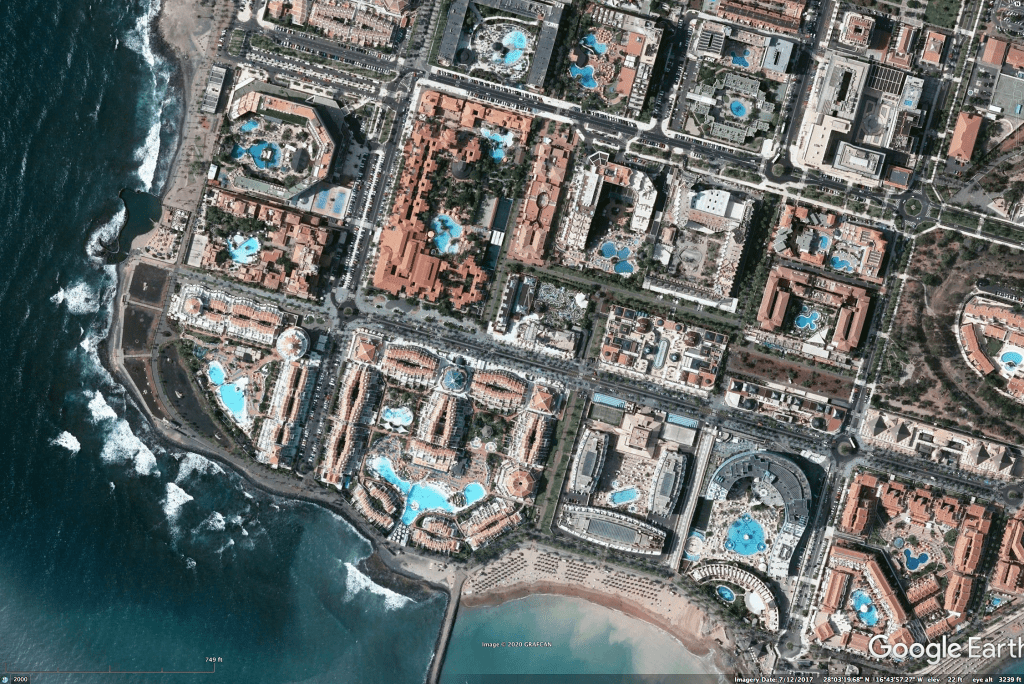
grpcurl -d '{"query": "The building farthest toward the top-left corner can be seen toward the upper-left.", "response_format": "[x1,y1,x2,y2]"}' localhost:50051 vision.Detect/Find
[201,65,229,115]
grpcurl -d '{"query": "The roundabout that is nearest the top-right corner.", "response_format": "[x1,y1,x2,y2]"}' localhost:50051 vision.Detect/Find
[898,192,929,222]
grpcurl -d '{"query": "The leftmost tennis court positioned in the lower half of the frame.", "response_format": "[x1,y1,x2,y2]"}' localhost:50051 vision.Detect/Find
[587,402,625,427]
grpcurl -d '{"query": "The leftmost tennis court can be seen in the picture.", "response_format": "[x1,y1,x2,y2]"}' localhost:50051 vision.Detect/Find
[185,234,208,266]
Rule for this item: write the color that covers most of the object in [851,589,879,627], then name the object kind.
blue swimming pool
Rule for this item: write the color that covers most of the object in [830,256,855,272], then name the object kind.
blue swimming pool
